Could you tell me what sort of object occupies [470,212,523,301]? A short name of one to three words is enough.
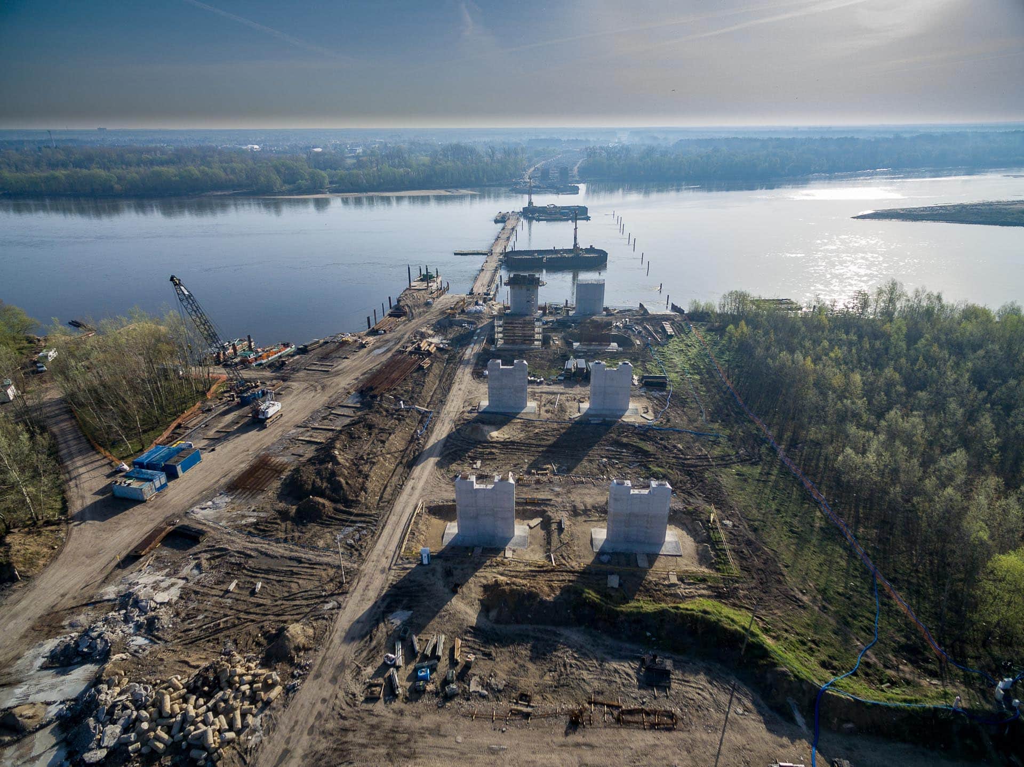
bridge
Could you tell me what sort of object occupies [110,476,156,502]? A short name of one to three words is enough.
shipping container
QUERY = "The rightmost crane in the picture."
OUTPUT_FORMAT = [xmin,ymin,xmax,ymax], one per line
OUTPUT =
[245,384,287,427]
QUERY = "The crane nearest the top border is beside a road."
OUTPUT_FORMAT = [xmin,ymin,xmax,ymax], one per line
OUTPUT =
[168,273,262,397]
